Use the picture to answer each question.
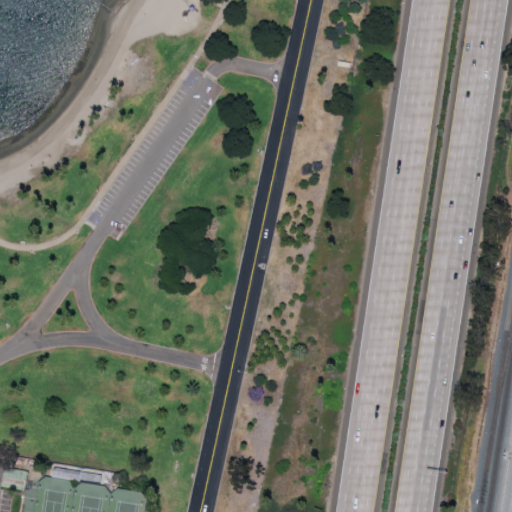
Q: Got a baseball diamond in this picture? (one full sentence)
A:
No, there is no baseball diamond in the image.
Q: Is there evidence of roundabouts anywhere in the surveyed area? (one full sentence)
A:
No, there is no roundabout in the image.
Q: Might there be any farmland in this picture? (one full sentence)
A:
No, farmland can't be seen anywhere here.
